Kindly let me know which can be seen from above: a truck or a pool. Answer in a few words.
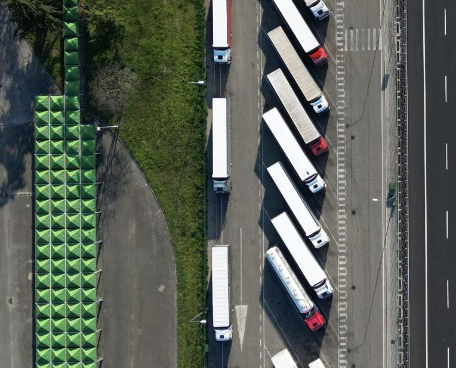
truck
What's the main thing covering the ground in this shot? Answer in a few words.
paved ground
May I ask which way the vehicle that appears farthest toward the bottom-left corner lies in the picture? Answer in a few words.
from top to bottom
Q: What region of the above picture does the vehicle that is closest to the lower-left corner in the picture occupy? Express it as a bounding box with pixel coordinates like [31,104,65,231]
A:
[212,245,232,343]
